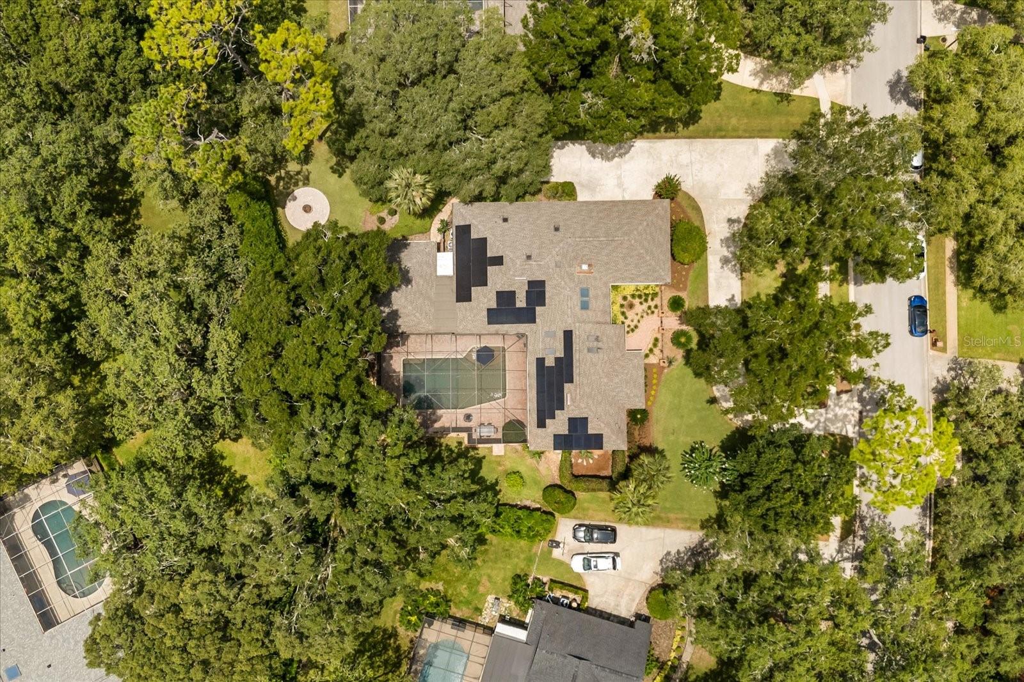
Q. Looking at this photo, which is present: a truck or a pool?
pool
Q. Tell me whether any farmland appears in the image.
No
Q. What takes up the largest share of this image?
trees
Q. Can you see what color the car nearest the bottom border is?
white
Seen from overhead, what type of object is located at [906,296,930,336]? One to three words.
car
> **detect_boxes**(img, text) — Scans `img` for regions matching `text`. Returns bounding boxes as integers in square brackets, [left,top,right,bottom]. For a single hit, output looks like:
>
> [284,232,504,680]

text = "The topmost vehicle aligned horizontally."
[573,524,617,545]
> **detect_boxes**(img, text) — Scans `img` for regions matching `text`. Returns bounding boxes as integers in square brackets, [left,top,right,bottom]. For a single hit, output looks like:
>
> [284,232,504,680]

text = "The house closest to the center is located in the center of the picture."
[366,199,672,450]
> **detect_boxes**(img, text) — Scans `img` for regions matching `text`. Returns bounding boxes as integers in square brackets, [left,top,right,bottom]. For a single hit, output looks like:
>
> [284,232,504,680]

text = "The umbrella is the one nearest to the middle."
[477,345,494,366]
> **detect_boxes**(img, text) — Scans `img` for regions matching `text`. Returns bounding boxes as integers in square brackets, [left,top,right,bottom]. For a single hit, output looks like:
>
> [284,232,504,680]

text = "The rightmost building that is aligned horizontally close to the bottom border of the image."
[470,598,652,682]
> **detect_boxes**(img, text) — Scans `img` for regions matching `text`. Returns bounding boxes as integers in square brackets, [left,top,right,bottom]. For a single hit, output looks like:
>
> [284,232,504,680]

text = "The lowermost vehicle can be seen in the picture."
[573,553,619,574]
